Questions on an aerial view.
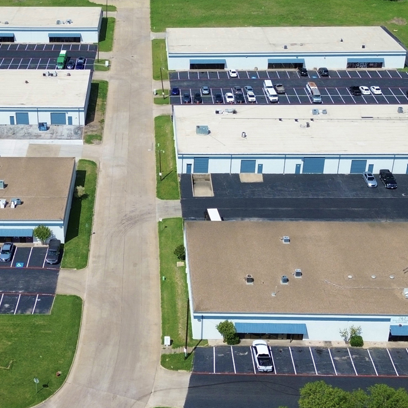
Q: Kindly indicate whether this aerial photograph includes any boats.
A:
No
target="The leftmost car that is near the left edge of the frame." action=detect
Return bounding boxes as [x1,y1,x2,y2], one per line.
[0,244,14,263]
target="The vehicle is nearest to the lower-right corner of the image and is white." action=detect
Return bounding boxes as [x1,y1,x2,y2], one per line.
[252,341,273,374]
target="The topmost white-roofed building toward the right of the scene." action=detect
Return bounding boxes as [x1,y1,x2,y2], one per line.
[166,27,407,68]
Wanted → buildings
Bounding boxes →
[184,221,408,341]
[0,69,90,125]
[0,5,101,41]
[172,104,408,174]
[0,156,75,244]
[166,27,407,68]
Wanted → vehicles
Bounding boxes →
[45,240,60,263]
[369,87,381,96]
[319,67,328,76]
[225,94,234,103]
[229,70,237,78]
[310,87,323,101]
[379,170,397,187]
[201,86,209,95]
[75,62,83,69]
[214,95,223,103]
[78,57,85,65]
[235,92,244,103]
[362,174,377,187]
[67,61,74,69]
[244,86,253,95]
[297,68,309,78]
[206,210,222,221]
[247,90,256,102]
[252,341,273,374]
[194,94,202,103]
[266,87,278,101]
[0,244,14,263]
[263,80,275,90]
[183,94,192,103]
[56,46,67,66]
[348,85,362,96]
[360,87,370,96]
[275,84,285,95]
